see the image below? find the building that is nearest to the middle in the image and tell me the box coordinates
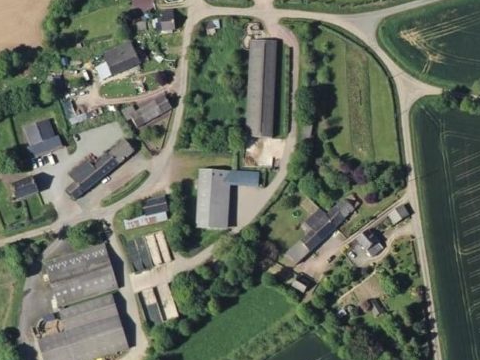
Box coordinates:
[196,169,259,229]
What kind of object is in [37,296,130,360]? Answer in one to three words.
barn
